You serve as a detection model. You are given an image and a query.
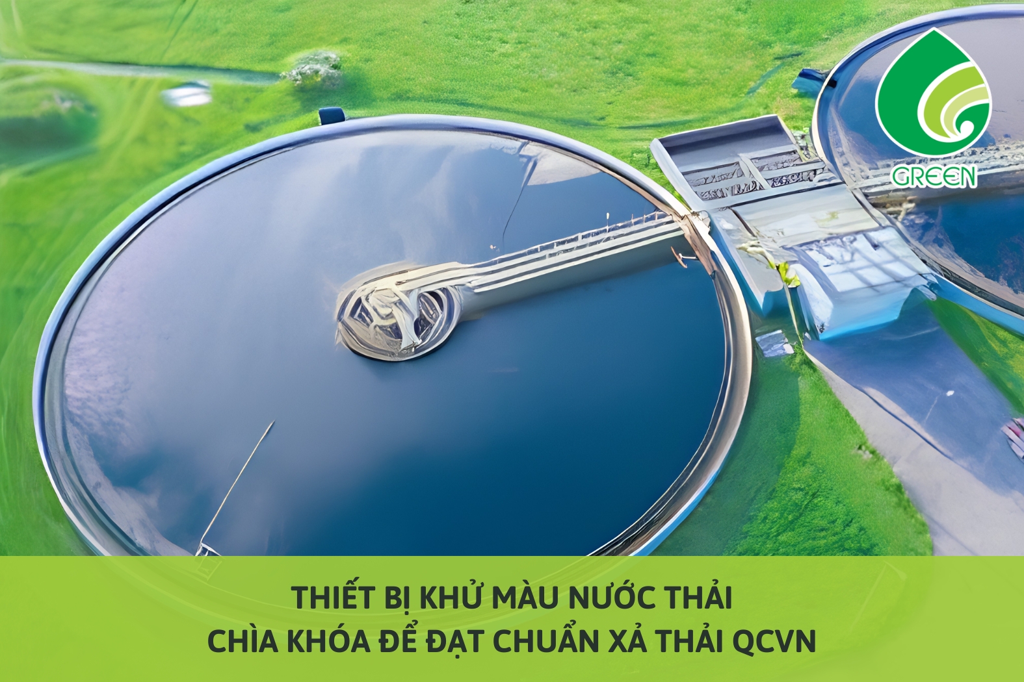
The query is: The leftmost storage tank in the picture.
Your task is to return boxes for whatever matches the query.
[31,115,752,651]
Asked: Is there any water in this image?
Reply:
Yes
